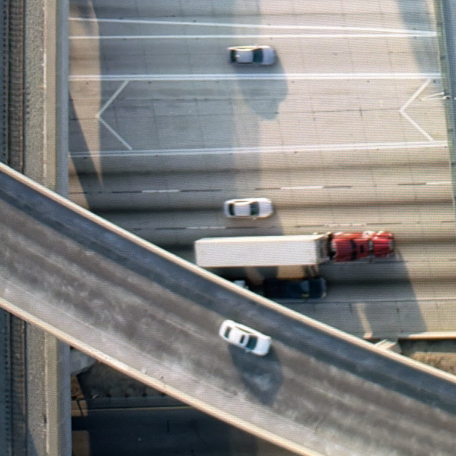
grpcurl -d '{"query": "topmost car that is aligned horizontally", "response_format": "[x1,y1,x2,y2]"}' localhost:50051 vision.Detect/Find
[226,45,278,67]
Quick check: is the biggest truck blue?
No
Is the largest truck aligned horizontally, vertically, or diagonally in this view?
horizontally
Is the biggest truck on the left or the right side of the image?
right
